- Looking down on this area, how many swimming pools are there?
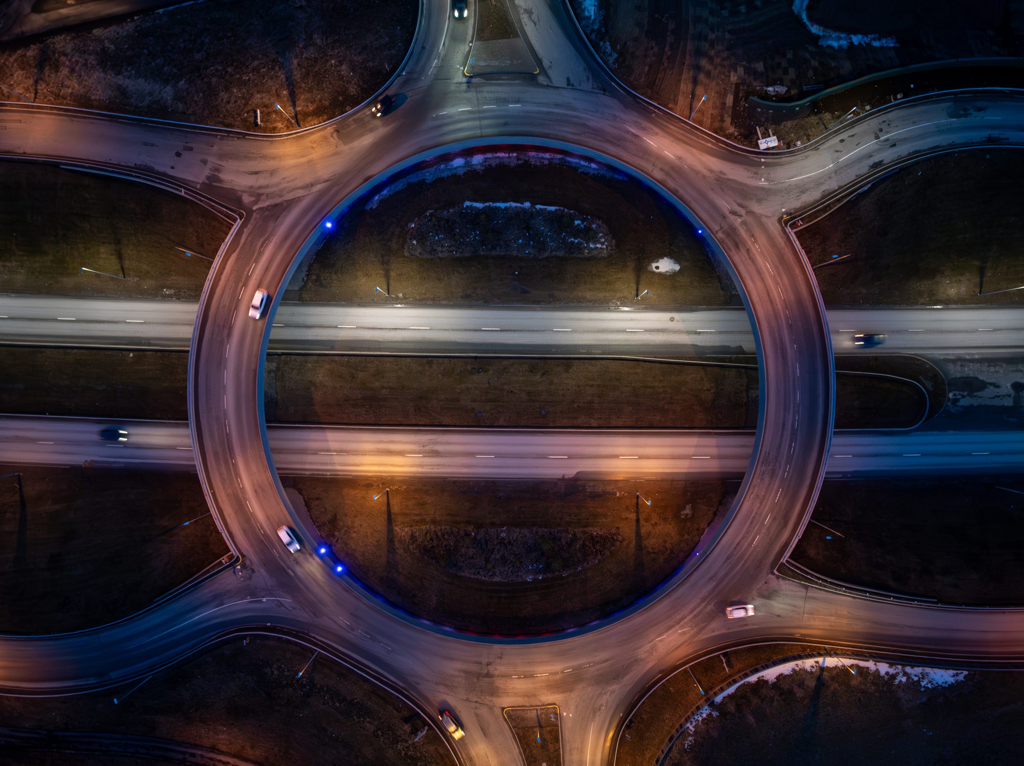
0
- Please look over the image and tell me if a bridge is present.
Yes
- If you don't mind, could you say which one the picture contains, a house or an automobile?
automobile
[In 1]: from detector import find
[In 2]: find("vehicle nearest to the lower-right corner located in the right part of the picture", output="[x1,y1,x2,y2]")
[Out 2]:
[725,604,755,619]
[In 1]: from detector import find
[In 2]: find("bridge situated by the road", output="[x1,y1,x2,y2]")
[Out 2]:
[184,96,840,687]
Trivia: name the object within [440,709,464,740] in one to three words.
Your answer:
car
